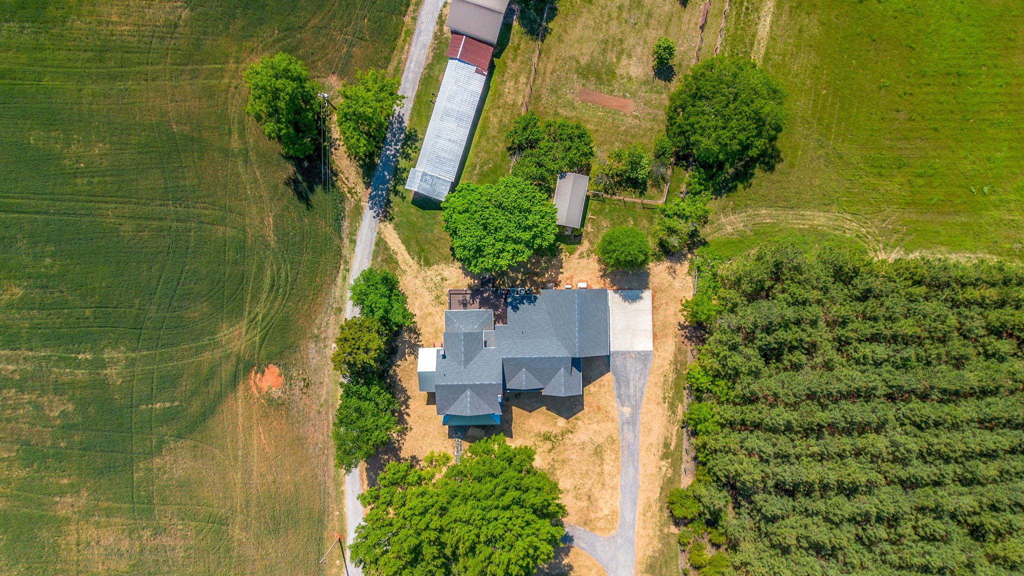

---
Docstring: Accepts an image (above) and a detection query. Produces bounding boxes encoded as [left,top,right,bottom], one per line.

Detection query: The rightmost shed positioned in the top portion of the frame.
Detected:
[553,172,589,238]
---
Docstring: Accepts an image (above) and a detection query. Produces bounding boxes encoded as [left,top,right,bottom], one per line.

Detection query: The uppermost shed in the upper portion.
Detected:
[447,0,510,45]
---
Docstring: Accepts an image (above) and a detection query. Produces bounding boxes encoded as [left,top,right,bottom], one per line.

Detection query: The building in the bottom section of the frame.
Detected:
[418,289,610,426]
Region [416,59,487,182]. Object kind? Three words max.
barn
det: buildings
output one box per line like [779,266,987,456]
[418,289,610,426]
[416,59,487,182]
[447,0,510,45]
[553,172,589,238]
